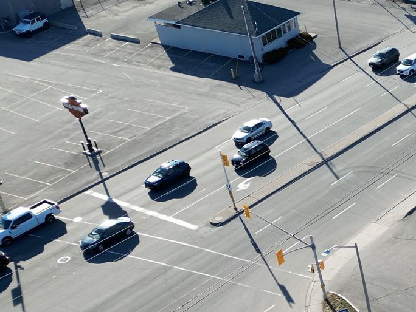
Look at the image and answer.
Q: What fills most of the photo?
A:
paved ground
